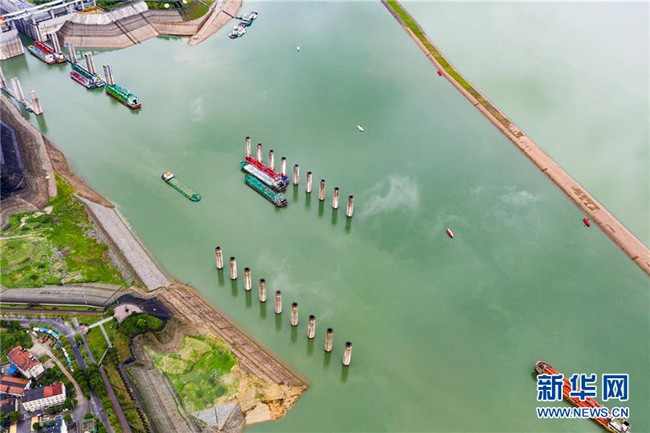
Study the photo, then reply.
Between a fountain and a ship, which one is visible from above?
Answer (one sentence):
The one in the frame is a ship.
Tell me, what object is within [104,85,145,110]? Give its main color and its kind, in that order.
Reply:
green ship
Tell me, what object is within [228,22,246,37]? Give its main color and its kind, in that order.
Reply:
white boat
